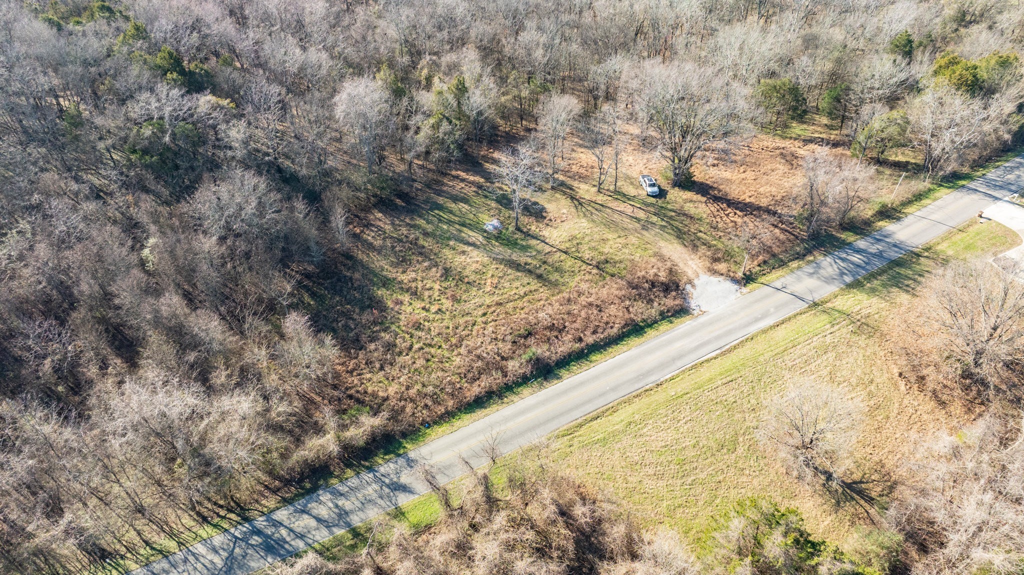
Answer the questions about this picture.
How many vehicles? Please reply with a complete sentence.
The count comes to 1 vehicle.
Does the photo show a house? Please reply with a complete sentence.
No, no house is visible in the view.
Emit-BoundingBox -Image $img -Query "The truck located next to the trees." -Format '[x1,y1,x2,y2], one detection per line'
[638,174,660,197]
